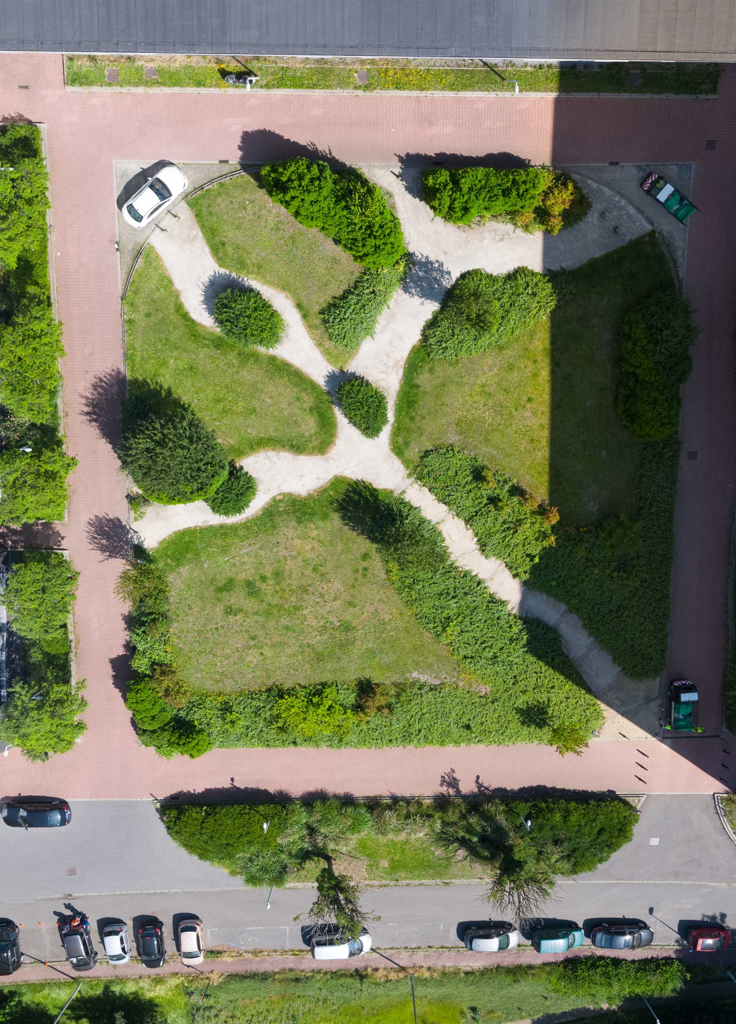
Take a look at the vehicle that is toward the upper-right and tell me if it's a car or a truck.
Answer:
truck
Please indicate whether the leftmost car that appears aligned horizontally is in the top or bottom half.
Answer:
bottom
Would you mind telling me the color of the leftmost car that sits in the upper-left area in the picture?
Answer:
white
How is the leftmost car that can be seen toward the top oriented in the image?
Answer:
on a diagonal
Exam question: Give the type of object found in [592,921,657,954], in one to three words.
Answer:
car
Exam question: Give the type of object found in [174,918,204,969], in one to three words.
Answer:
car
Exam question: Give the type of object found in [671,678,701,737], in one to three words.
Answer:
truck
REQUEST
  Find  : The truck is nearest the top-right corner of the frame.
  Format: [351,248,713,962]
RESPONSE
[645,171,707,223]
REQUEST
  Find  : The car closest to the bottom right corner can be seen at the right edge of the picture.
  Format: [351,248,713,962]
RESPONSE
[689,923,736,955]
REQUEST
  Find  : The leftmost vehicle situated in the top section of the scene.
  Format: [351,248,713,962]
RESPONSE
[119,162,190,231]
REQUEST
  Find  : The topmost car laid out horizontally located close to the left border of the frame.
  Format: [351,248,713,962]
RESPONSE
[0,800,69,833]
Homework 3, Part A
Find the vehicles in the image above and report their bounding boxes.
[645,171,707,223]
[689,923,736,955]
[592,921,657,954]
[0,800,69,833]
[119,162,190,231]
[56,919,94,974]
[532,920,586,955]
[309,924,371,960]
[671,678,701,737]
[0,921,19,977]
[134,921,165,974]
[465,922,520,954]
[174,918,204,969]
[98,920,130,971]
